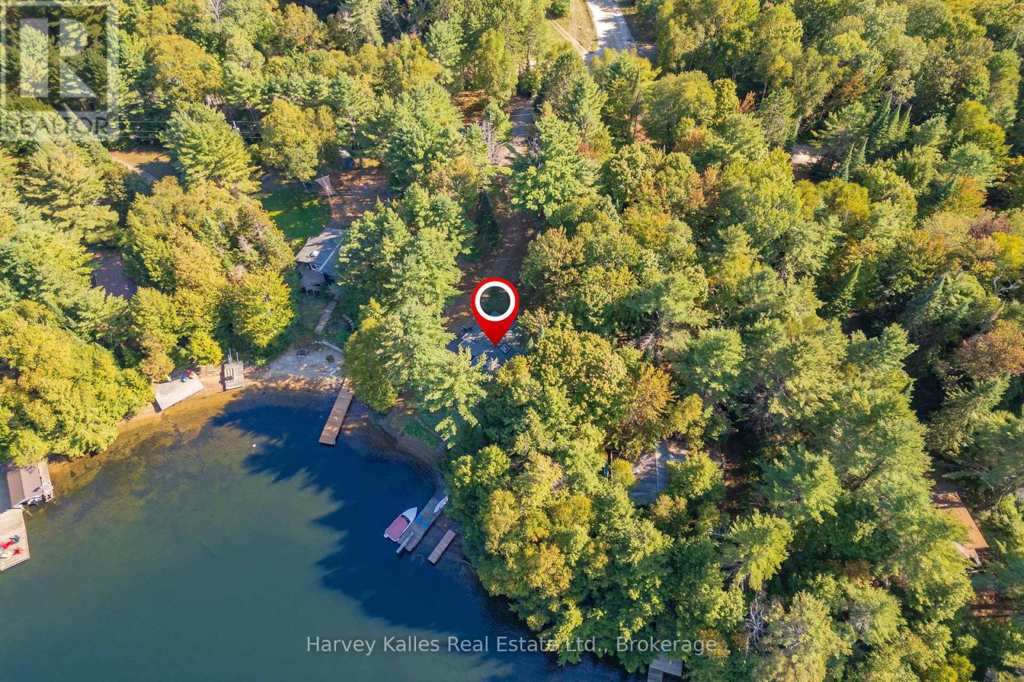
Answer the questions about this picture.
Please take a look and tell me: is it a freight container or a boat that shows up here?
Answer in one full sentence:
Of the two, only a boat appears.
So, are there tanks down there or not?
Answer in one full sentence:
No, there appears to be no tank in this shot.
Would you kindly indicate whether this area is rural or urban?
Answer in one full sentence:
From above, the setting appears rural.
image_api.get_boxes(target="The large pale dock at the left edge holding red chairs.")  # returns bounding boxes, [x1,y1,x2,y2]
[0,509,31,573]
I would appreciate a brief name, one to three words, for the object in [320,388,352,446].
pier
